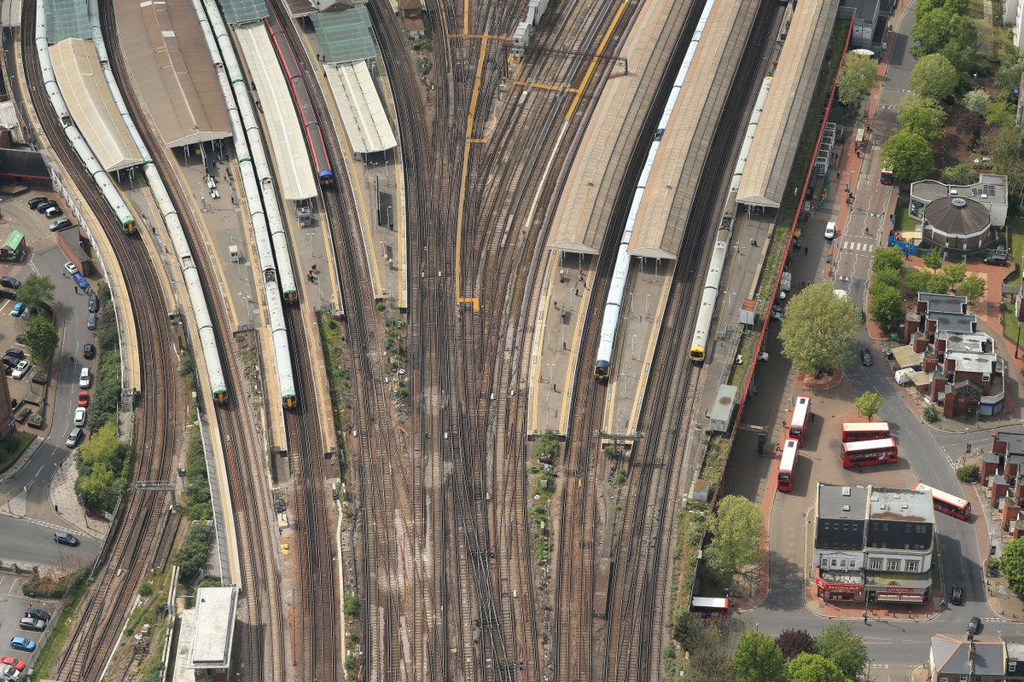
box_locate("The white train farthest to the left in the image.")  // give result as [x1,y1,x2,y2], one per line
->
[34,0,136,235]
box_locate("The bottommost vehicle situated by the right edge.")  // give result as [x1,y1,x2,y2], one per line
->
[968,615,982,634]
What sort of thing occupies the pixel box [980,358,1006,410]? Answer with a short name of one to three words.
building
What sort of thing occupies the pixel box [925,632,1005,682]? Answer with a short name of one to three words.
house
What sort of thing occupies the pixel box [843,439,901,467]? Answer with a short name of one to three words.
bus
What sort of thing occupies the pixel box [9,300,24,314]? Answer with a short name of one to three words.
car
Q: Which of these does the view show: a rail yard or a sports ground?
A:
rail yard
